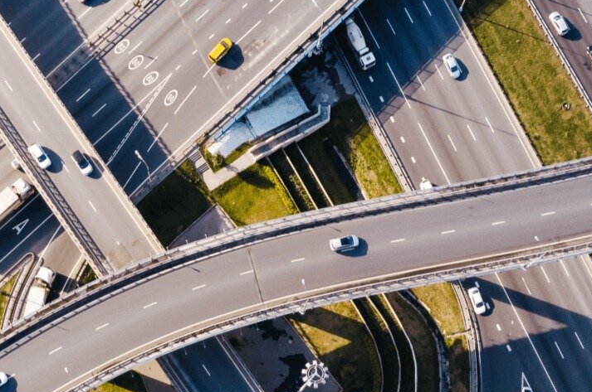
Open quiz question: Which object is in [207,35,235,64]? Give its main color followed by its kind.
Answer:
yellow car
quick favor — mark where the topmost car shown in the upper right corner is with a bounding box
[547,8,570,38]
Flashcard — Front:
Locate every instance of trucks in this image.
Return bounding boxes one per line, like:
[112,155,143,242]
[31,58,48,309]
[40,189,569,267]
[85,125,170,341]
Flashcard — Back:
[20,260,58,317]
[0,175,32,219]
[343,16,379,75]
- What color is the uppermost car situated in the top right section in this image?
white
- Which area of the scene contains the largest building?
top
